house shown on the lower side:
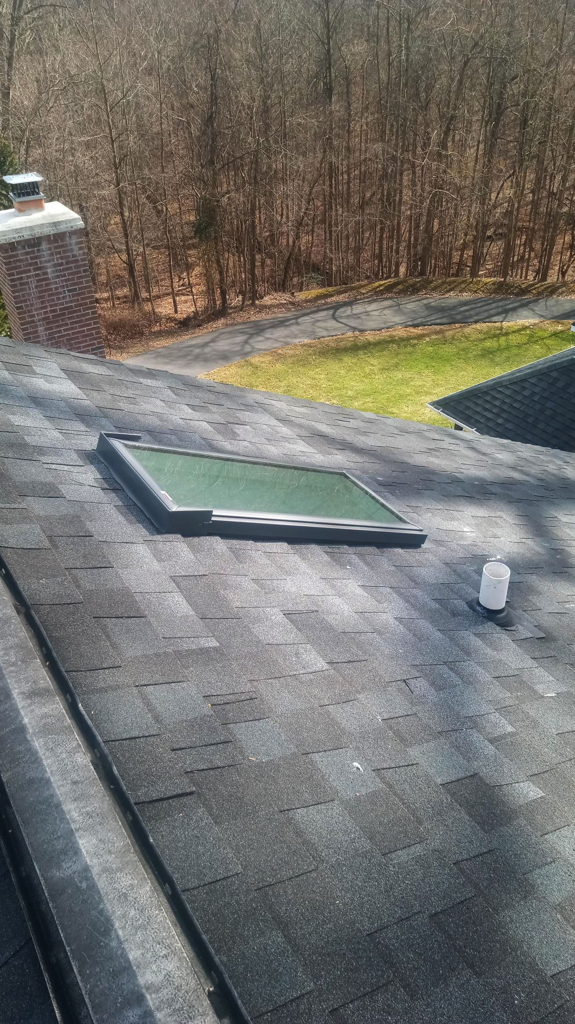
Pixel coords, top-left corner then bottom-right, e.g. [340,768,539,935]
[0,335,575,1024]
